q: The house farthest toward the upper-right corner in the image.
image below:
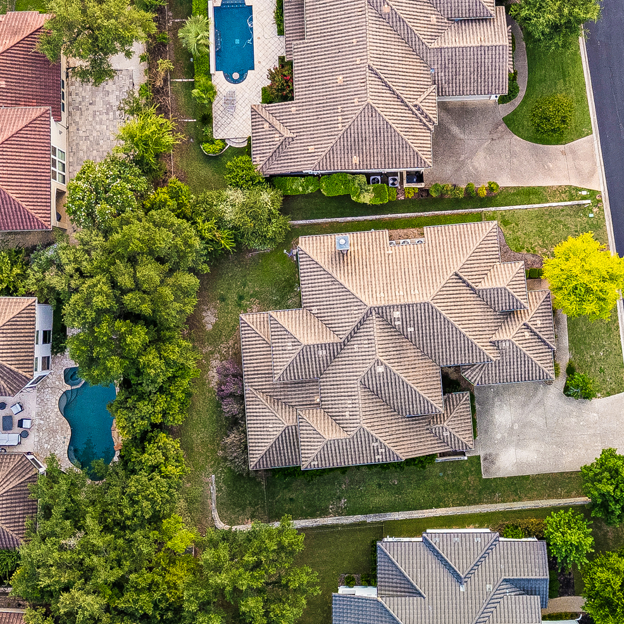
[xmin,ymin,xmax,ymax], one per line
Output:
[250,0,515,177]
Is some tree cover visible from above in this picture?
Yes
